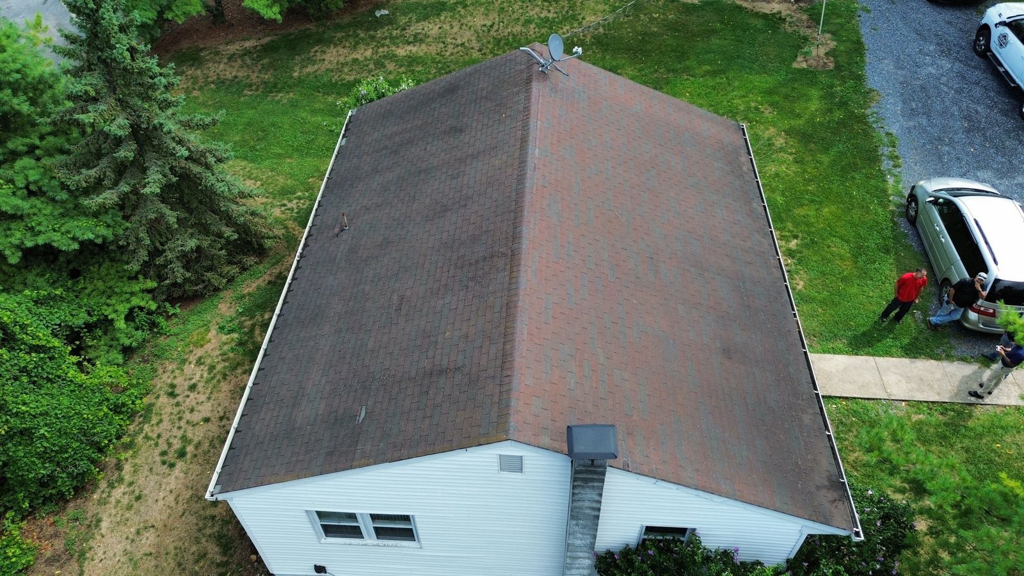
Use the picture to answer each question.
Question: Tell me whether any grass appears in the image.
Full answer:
Yes, there's grass in this view.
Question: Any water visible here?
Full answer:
No, there is no water in the image.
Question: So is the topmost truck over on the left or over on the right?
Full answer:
The topmost truck is on the right side of the image.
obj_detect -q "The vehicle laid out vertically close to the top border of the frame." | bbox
[979,16,1024,115]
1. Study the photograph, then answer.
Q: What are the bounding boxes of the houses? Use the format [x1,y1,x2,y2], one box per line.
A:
[204,42,861,576]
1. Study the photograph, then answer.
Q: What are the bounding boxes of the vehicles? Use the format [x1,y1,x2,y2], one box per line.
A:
[912,175,1024,323]
[979,16,1024,115]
